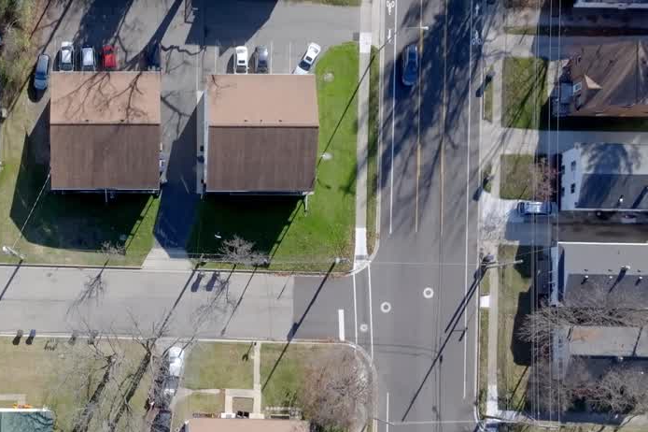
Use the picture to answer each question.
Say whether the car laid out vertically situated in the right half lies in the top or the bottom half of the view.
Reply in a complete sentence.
It is in the top half that the car laid out vertically situated in the right half appears.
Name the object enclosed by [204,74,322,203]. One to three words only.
building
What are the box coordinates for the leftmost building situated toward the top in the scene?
[48,71,161,202]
